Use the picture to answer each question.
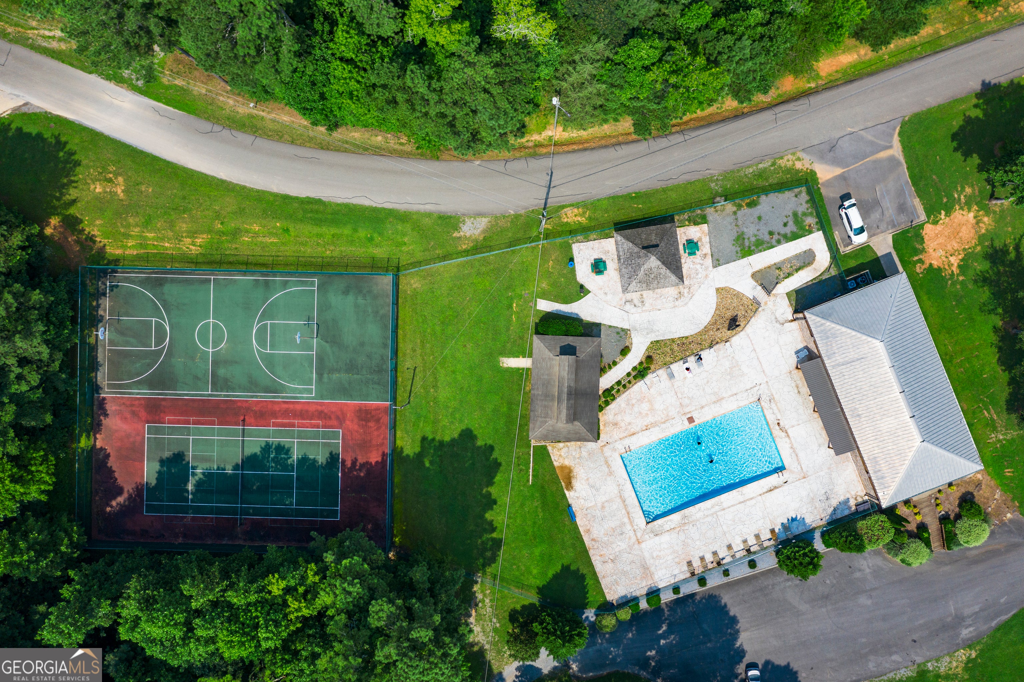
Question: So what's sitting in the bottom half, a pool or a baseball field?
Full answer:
What appears in the bottom half is a pool.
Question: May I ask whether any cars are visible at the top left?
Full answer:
No, I see no car at the top left.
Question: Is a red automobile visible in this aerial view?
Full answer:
No, I find no red automobile anywhere in the image.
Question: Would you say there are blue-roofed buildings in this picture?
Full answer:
No, I find no blue-roofed building anywhere in the image.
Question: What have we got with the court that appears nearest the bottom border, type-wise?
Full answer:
The court that appears nearest the bottom border appears to be a tennis court.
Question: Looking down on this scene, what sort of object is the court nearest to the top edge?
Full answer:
It looks like the court nearest to the top edge is a basketball court.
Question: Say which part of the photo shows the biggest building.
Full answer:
The biggest building appears toward the right of the photo.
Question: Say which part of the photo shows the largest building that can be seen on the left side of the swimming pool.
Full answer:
The largest building that can be seen on the left side of the swimming pool appears toward the center of the photo.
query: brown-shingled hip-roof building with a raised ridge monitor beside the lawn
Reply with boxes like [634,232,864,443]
[529,334,602,443]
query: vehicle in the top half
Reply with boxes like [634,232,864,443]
[840,201,867,246]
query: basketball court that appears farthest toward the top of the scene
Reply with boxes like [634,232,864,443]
[95,268,399,402]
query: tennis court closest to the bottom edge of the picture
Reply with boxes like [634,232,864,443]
[91,395,393,550]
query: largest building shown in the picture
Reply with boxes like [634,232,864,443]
[795,270,985,509]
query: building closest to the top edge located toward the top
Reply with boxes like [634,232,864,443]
[613,222,685,294]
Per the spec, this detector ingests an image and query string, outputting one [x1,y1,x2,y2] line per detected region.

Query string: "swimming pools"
[619,399,787,525]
